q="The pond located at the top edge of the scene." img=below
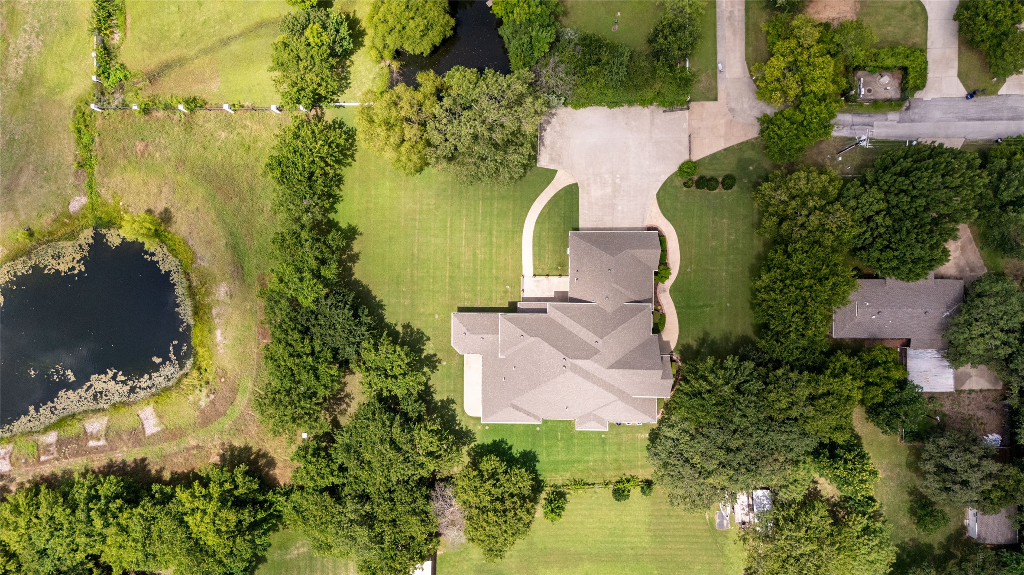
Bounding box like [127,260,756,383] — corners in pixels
[387,0,519,100]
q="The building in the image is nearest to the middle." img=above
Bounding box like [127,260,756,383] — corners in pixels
[451,231,679,431]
